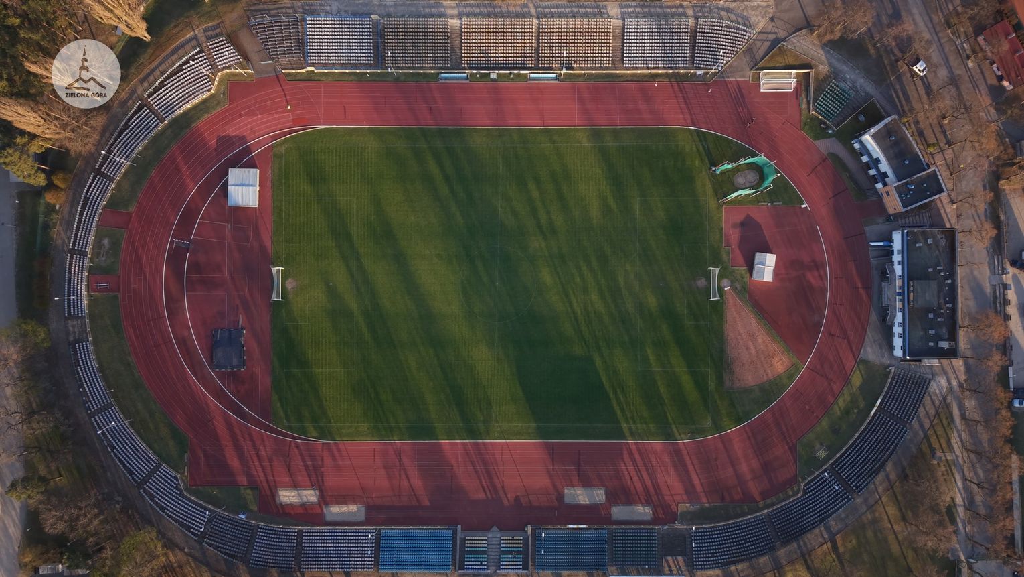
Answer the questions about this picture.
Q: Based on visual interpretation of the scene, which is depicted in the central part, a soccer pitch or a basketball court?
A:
soccer pitch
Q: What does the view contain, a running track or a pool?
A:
running track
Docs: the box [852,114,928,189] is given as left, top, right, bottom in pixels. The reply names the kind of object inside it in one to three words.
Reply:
building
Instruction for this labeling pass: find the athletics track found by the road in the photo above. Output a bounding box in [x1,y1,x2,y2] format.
[89,70,887,526]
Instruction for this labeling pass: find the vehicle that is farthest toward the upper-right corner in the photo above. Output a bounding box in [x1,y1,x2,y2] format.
[910,59,929,78]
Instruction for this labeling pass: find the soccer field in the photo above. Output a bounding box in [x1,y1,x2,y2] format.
[272,128,804,440]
